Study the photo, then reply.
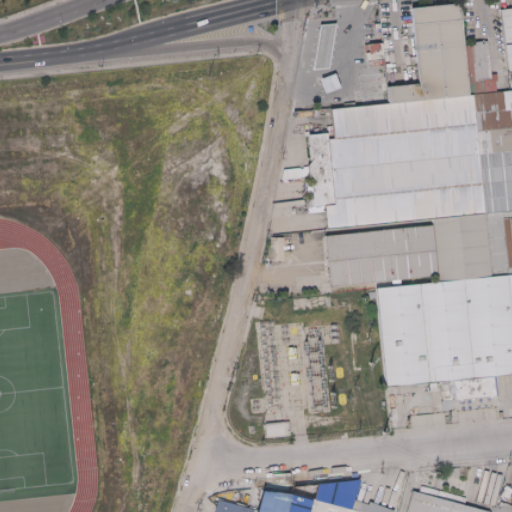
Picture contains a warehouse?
Yes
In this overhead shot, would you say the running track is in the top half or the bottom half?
bottom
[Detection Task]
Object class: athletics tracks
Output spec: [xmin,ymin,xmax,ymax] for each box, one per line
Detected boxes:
[0,216,98,512]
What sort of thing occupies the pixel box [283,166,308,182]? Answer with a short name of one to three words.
shed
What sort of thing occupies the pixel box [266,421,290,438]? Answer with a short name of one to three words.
building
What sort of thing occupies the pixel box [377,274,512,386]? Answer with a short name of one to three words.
warehouse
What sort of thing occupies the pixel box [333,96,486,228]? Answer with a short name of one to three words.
warehouse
